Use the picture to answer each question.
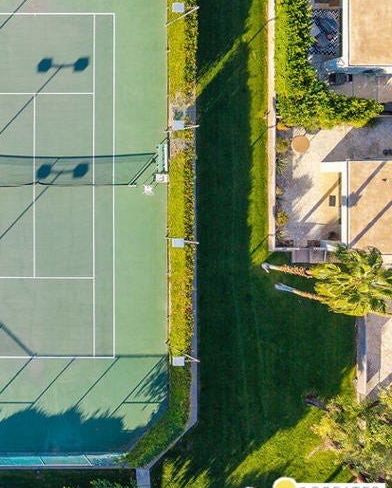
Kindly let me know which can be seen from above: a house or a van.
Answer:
house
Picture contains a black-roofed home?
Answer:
No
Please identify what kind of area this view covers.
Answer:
sports ground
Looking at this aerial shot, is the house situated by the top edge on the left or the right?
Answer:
right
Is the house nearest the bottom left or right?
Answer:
right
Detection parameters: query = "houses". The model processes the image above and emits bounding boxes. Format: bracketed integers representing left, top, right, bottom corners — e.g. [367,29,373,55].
[316,161,392,256]
[321,0,392,70]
